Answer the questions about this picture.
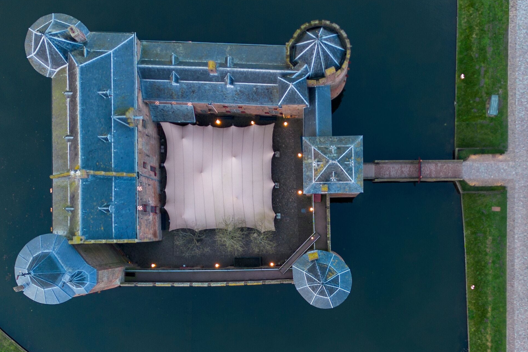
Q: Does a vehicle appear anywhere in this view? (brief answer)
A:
No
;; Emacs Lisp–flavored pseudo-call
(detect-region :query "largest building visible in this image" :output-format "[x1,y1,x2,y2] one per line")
[14,13,364,309]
